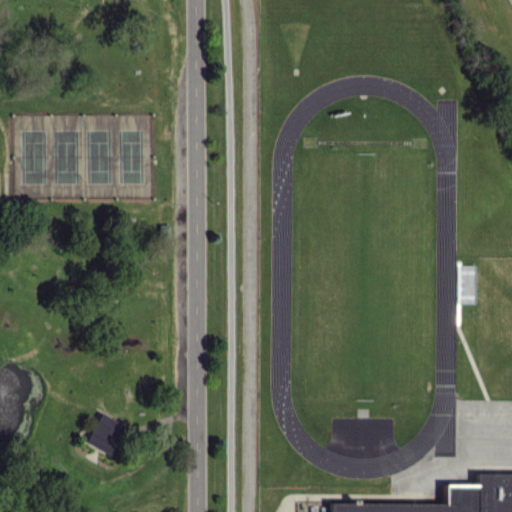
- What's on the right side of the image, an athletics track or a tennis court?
athletics track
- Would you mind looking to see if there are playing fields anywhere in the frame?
Yes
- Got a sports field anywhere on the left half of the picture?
No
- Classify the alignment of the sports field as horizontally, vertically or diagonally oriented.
vertically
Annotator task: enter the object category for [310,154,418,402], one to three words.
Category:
sports field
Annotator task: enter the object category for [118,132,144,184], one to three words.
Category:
tennis court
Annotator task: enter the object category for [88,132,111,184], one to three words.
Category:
tennis court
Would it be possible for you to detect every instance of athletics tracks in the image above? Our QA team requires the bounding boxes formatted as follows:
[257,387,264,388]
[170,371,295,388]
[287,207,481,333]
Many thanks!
[270,76,458,479]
